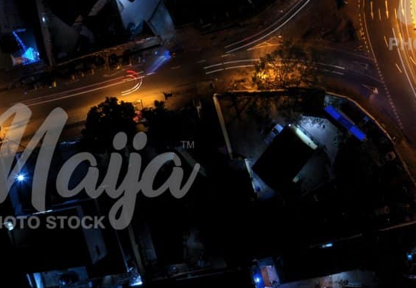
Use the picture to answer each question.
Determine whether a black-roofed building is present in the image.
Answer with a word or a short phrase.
Yes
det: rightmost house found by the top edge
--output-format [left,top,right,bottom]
[74,0,127,50]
